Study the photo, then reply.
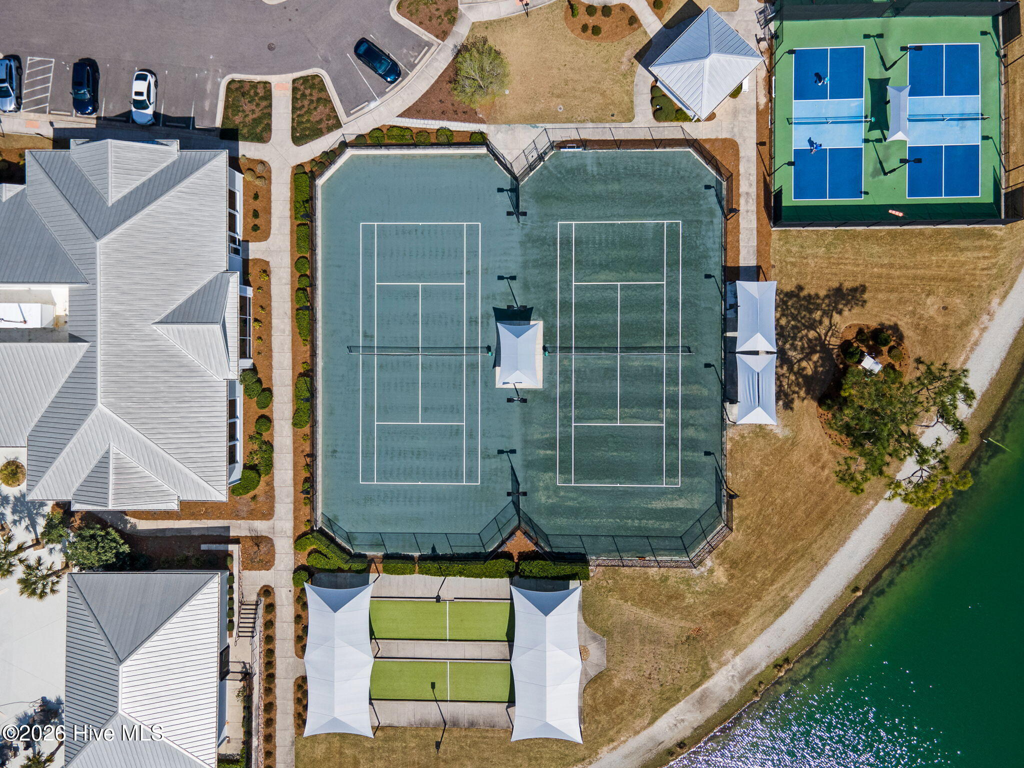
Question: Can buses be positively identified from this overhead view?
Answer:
No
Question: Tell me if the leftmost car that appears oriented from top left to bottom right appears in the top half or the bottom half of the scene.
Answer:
top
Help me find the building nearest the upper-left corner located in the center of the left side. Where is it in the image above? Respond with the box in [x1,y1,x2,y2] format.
[0,138,255,511]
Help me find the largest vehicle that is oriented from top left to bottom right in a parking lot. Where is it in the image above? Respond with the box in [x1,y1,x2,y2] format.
[354,37,402,85]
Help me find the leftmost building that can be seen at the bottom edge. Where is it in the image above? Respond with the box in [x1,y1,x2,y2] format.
[67,571,231,768]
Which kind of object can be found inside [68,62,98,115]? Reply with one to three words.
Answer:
car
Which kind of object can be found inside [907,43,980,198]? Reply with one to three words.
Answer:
sports court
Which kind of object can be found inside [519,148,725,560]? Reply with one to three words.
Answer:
tennis court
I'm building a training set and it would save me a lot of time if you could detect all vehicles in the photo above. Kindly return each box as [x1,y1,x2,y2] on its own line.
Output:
[354,37,402,85]
[127,71,156,125]
[0,58,19,113]
[68,62,98,115]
